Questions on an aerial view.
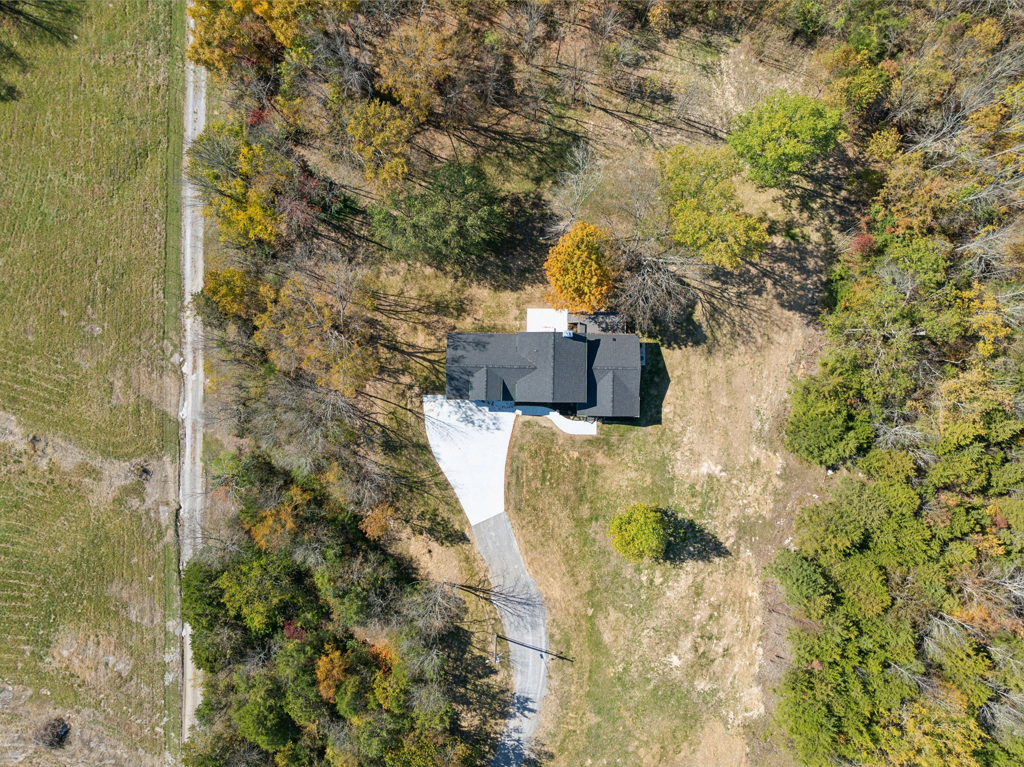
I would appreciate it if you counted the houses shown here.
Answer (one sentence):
The picture shows 1 house.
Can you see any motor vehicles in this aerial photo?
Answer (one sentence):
No, there appears to be no motor vehicle in this shot.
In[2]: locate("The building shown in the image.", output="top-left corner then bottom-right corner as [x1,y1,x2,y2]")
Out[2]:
[445,311,641,422]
